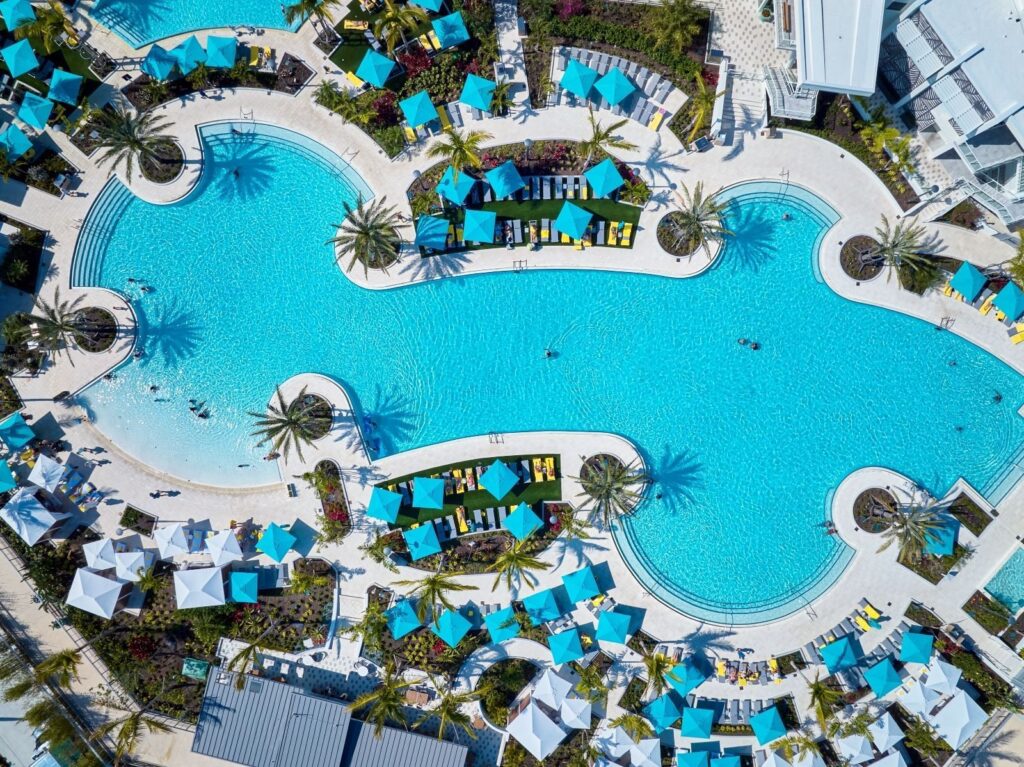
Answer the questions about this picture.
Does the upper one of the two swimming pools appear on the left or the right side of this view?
left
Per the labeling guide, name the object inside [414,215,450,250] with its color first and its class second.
blue umbrella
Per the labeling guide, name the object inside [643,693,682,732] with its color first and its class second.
blue umbrella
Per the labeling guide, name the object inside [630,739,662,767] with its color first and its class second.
white umbrella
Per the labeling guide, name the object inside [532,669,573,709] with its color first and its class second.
white umbrella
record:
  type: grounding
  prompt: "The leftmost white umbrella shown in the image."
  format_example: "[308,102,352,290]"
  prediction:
[29,455,65,491]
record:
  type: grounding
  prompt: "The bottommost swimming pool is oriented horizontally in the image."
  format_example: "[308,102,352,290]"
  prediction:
[72,120,1024,625]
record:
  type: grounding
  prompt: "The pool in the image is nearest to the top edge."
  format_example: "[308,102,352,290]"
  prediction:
[90,0,322,48]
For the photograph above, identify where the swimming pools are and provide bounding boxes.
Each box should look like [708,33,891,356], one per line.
[90,0,322,48]
[72,120,1024,625]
